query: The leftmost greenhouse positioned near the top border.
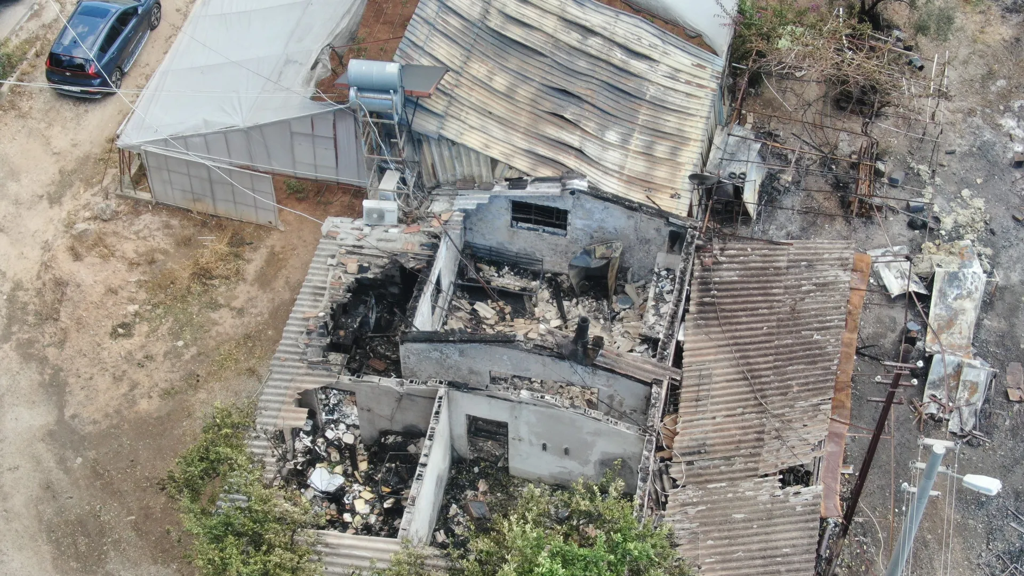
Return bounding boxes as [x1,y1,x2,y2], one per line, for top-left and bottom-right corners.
[100,0,401,229]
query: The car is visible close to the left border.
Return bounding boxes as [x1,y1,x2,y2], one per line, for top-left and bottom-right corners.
[43,0,163,100]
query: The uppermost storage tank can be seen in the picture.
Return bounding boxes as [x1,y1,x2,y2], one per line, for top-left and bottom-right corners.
[346,60,402,93]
